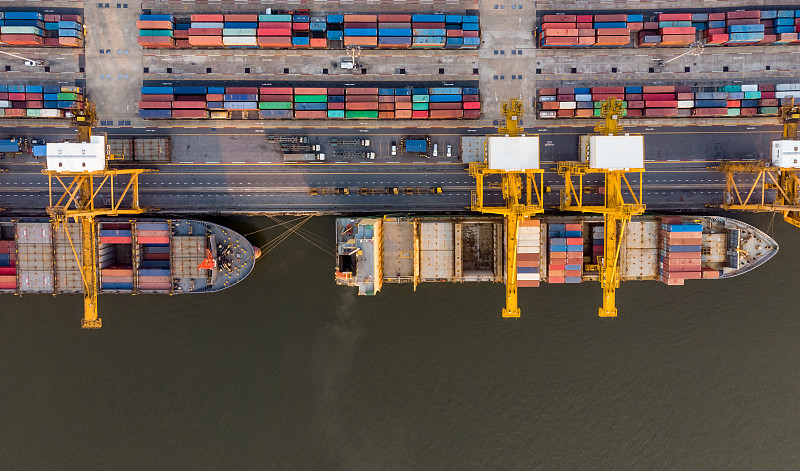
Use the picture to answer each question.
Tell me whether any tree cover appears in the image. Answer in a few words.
No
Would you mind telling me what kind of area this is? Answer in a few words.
port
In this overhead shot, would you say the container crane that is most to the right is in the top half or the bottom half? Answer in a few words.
top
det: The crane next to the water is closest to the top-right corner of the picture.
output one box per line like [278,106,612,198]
[702,95,800,231]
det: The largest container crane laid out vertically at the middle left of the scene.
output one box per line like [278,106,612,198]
[48,99,160,330]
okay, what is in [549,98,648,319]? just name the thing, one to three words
container crane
